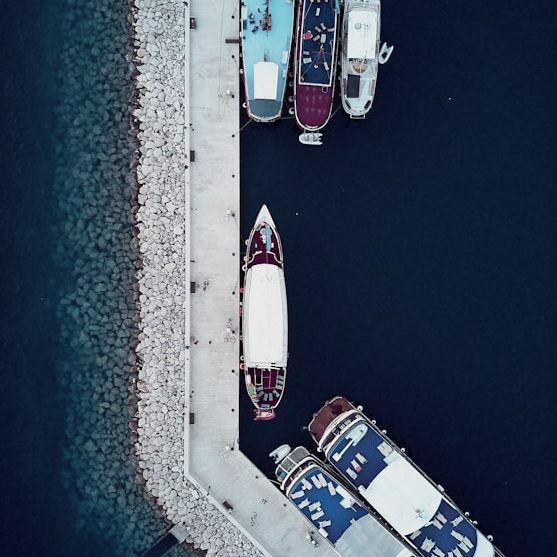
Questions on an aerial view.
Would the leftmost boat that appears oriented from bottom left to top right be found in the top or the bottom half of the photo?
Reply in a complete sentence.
The bottom half of the photo is where the leftmost boat that appears oriented from bottom left to top right is.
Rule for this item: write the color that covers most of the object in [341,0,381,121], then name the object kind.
white boat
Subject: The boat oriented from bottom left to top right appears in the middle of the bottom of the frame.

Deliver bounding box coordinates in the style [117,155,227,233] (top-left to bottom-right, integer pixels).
[268,443,291,463]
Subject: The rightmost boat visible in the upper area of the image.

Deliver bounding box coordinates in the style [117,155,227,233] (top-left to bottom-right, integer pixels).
[380,41,394,64]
